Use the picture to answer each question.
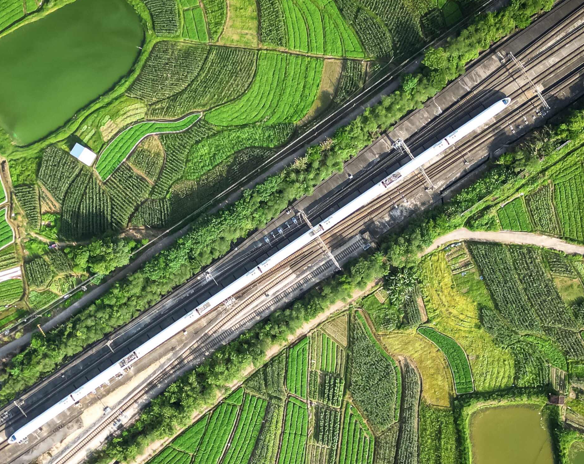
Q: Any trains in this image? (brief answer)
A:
Yes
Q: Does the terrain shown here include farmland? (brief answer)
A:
Yes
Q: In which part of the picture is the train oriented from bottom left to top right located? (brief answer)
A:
center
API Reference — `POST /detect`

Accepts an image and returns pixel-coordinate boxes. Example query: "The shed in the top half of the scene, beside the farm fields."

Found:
[70,143,96,166]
